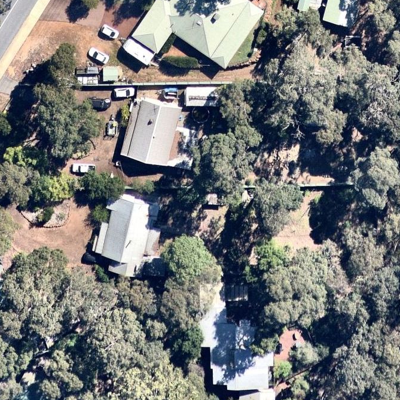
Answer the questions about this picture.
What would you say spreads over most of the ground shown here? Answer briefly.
trees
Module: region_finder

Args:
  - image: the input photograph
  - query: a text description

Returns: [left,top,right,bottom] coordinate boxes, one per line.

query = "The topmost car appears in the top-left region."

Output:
[100,24,119,38]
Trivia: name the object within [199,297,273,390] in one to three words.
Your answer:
house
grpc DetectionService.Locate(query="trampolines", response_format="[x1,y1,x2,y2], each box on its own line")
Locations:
[193,106,211,124]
